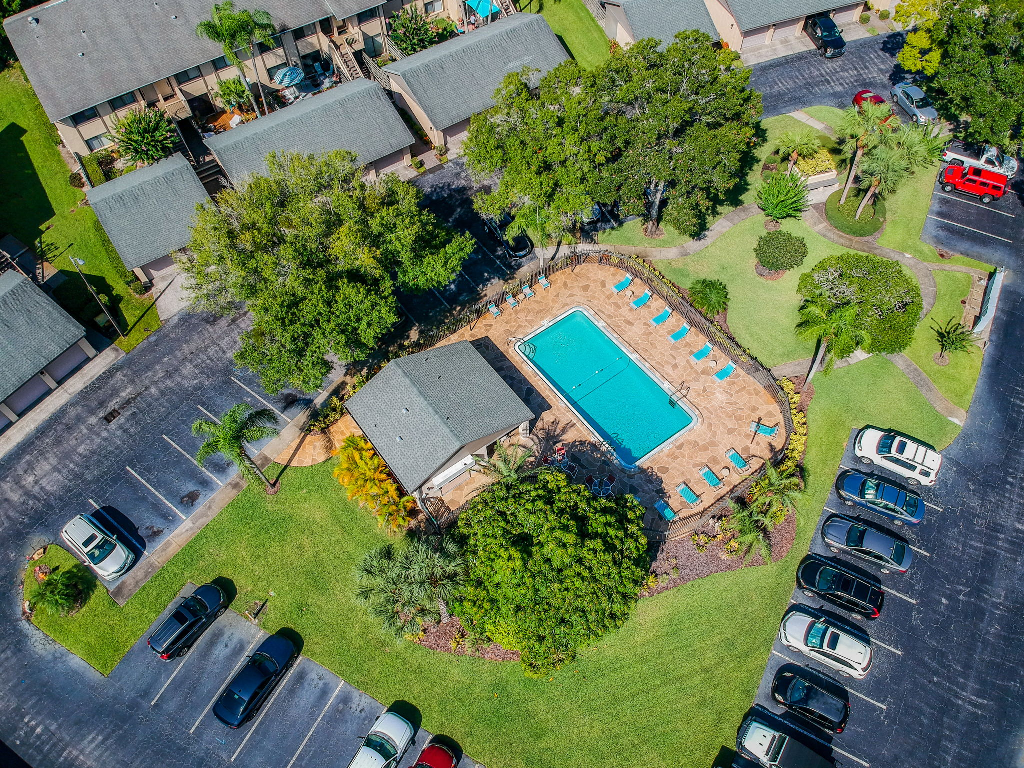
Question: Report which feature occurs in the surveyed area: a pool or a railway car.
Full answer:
It is a pool that can be seen here.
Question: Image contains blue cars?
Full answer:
Yes, I can see a blue car in this picture.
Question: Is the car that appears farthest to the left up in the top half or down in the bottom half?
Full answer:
The car that appears farthest to the left is in the bottom half of the image.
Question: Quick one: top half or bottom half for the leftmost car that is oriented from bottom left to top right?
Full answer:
The leftmost car that is oriented from bottom left to top right is in the bottom half of the image.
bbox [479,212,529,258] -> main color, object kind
black car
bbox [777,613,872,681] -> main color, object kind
white car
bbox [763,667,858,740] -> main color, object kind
black car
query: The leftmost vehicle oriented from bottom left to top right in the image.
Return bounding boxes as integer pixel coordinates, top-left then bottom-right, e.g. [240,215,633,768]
[148,583,233,666]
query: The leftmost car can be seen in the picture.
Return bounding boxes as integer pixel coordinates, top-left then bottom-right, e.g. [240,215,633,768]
[67,518,137,583]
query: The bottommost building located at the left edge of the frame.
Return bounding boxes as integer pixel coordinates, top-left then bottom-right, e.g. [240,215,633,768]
[0,273,96,424]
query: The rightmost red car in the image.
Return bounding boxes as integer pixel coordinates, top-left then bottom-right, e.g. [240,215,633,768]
[939,166,1010,204]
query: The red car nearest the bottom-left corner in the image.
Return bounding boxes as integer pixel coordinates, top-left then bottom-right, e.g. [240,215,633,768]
[404,739,457,768]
